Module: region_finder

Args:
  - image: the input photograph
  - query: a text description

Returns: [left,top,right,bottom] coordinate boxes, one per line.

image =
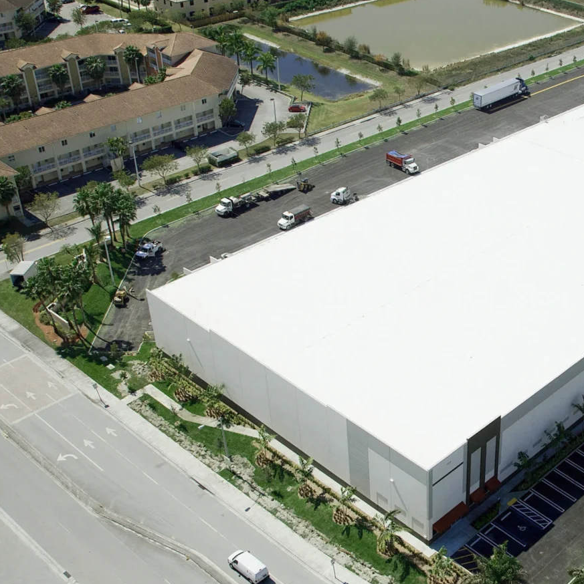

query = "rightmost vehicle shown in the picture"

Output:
[512,82,530,99]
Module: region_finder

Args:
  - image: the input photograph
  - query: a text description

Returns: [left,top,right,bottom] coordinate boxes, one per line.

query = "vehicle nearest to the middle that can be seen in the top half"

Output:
[279,207,314,228]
